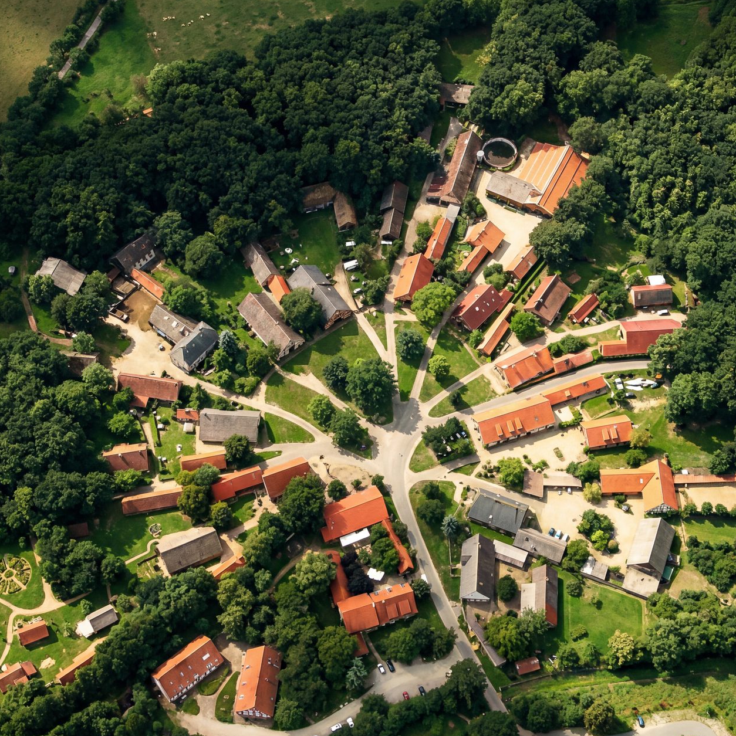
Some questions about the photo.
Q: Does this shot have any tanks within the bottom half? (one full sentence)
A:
No, no tank is visible within the bottom half.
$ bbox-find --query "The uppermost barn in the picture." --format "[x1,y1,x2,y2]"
[440,84,470,108]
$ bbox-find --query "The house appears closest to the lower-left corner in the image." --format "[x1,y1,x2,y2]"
[0,661,37,694]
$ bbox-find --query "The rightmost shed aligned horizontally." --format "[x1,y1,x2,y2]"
[673,474,736,486]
